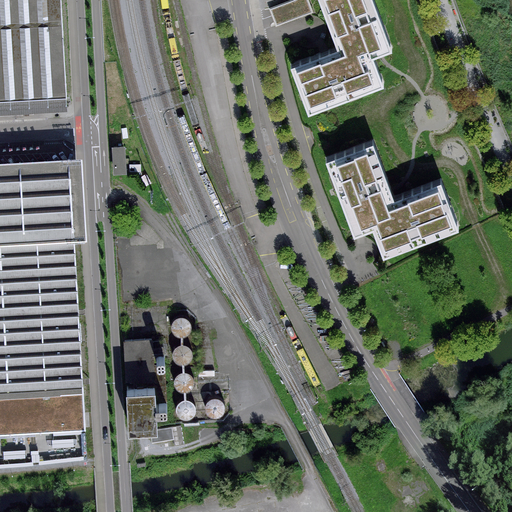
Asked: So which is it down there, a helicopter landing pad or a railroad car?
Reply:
railroad car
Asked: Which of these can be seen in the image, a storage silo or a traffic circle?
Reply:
storage silo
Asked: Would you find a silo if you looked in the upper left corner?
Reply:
No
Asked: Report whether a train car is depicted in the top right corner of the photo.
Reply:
No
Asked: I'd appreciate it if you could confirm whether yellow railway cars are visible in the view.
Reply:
Yes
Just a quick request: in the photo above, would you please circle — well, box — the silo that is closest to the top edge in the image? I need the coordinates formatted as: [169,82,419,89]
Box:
[171,314,192,338]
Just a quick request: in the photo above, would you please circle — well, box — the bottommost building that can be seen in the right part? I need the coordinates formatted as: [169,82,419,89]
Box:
[326,141,457,260]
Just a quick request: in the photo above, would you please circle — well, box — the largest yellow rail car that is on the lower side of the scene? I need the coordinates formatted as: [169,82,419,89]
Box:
[297,346,320,387]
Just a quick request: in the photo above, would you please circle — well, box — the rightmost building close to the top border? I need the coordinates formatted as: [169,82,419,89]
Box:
[294,0,392,114]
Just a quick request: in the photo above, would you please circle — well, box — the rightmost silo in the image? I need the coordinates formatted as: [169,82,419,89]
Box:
[205,394,224,418]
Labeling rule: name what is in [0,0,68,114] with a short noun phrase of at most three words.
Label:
building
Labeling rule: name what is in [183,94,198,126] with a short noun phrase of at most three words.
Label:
rail car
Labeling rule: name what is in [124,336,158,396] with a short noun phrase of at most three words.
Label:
building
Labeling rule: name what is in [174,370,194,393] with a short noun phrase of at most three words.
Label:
silo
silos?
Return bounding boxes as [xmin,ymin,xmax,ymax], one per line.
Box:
[205,394,224,418]
[171,314,192,338]
[172,342,192,366]
[176,397,196,421]
[174,370,194,393]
